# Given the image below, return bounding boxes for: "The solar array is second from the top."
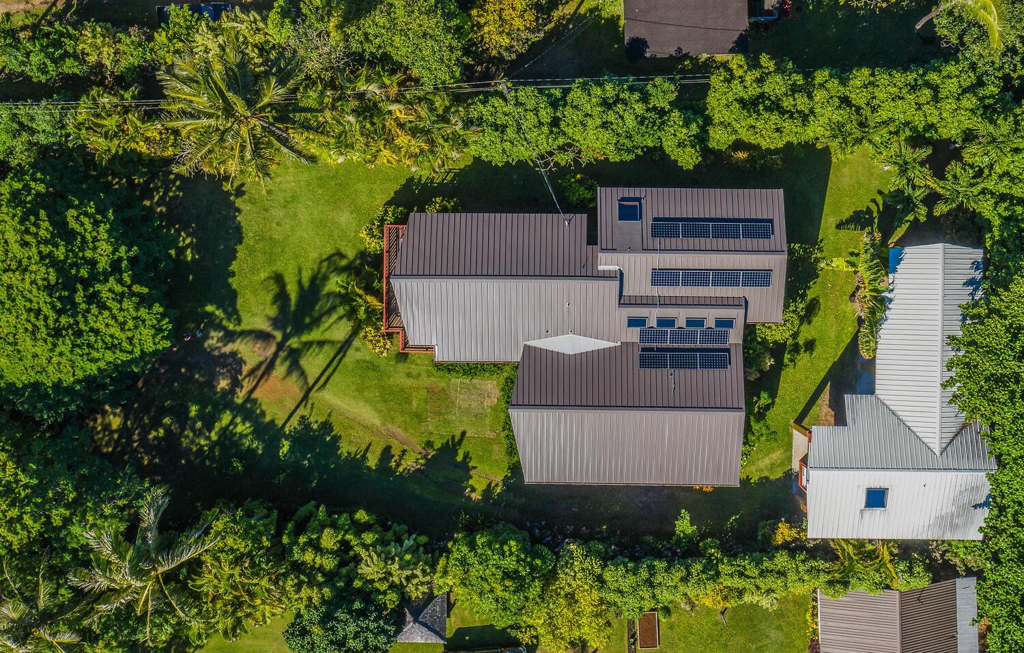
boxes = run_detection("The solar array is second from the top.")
[650,270,772,287]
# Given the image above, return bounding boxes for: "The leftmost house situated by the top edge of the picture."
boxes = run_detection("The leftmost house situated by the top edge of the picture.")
[623,0,752,59]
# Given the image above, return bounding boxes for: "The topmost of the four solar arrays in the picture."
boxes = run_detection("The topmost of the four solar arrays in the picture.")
[651,222,772,239]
